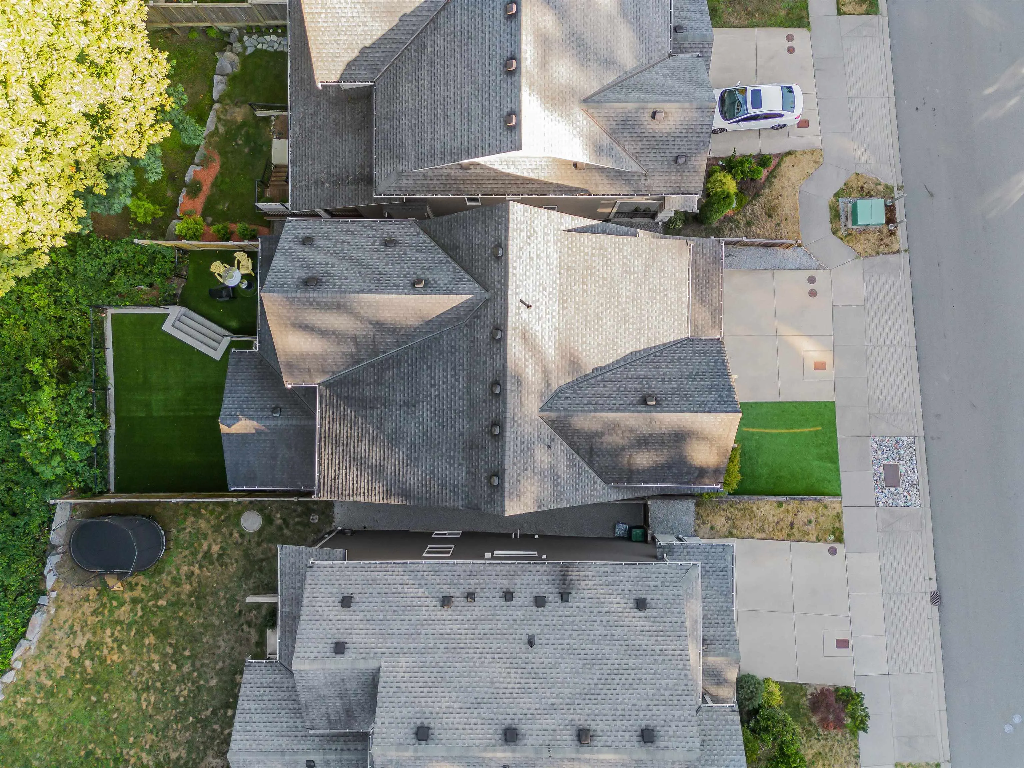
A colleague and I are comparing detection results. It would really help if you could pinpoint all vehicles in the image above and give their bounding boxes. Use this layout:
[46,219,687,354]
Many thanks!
[711,81,804,135]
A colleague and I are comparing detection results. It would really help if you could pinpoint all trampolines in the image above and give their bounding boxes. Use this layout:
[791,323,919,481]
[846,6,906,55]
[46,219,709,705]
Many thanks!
[46,513,173,588]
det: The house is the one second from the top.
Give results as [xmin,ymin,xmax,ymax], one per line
[218,200,742,517]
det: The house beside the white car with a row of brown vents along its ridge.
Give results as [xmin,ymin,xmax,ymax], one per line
[247,0,716,227]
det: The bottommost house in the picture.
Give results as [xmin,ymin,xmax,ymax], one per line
[228,516,744,768]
